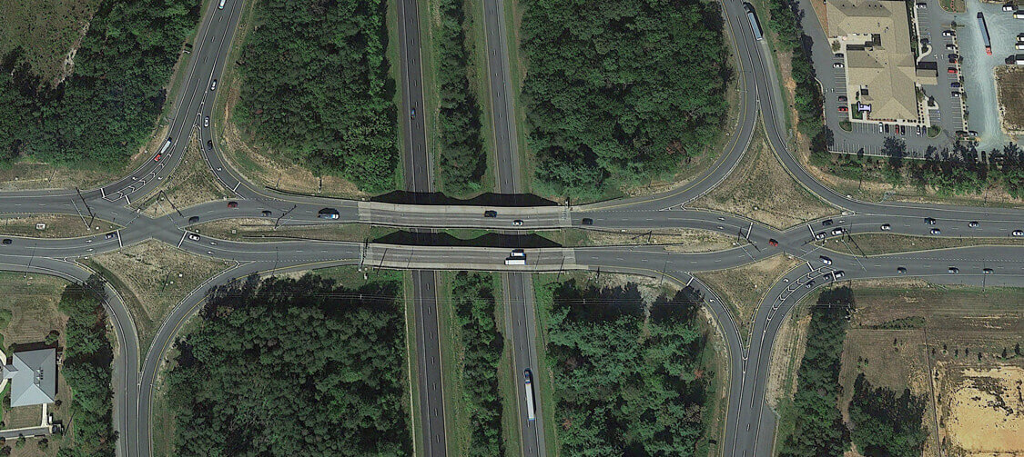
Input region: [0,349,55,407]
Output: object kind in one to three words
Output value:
house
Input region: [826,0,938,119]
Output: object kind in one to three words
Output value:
building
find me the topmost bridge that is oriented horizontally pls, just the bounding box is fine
[358,201,572,228]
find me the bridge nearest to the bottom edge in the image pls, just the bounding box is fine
[359,243,575,271]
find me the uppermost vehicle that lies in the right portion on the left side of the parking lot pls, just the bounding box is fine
[744,4,763,40]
